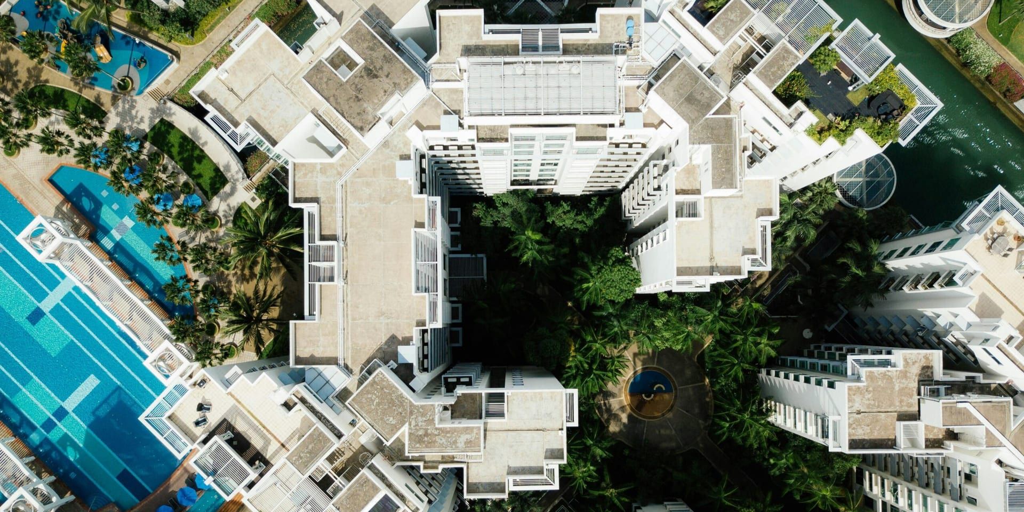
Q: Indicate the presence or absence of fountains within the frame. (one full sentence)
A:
Yes, looking at the shot, I can spot a fountain.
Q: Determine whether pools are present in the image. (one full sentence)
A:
Yes, the picture does show a pool.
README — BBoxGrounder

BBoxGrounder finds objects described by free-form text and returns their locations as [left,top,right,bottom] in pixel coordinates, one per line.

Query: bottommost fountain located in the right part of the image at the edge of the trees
[624,365,678,420]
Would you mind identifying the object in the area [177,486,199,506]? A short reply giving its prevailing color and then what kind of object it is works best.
blue umbrella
